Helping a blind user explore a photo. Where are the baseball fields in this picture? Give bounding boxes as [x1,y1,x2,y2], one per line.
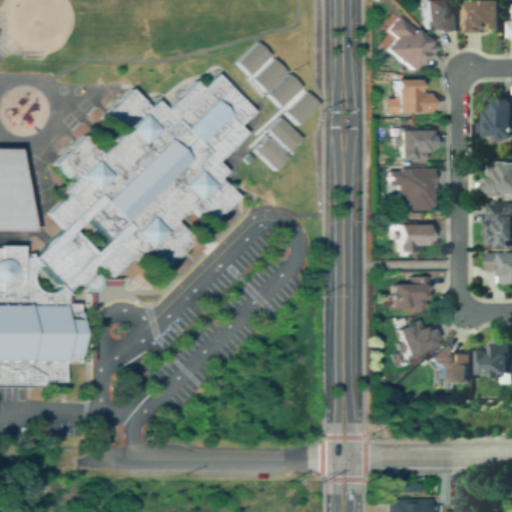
[0,0,296,70]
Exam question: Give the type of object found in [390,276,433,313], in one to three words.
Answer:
house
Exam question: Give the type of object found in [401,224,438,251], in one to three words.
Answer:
house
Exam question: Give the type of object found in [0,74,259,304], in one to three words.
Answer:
building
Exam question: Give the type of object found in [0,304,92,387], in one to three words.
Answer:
building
